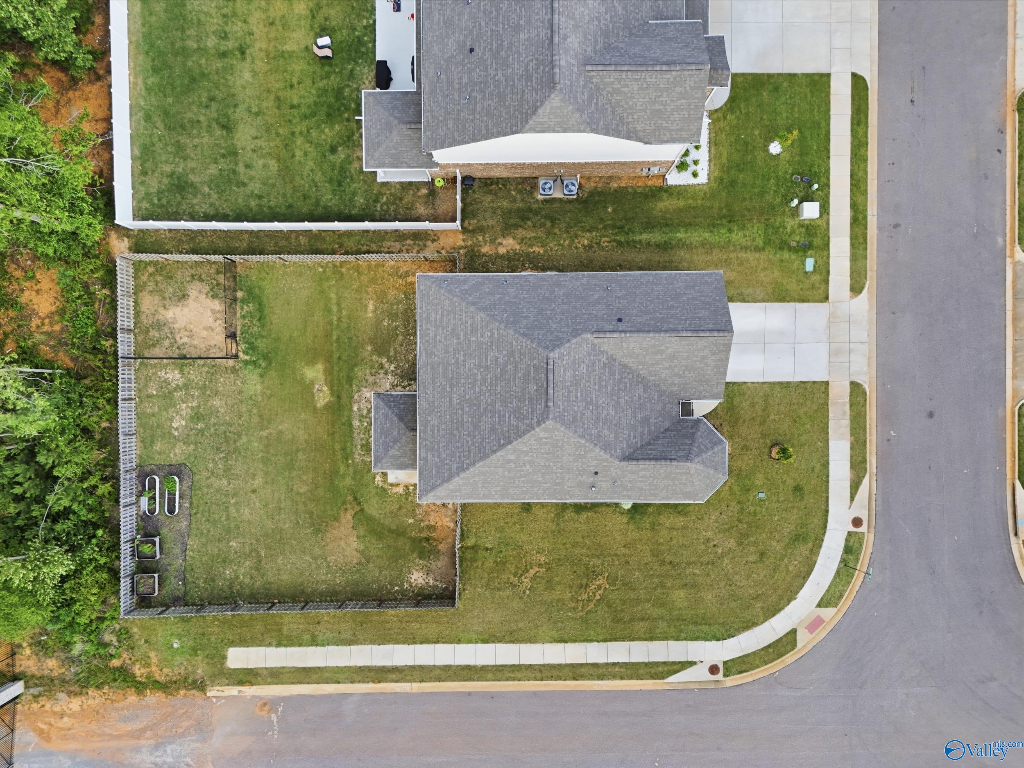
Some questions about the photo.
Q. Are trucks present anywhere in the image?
No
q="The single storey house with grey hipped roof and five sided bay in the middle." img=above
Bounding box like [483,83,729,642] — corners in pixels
[372,271,733,503]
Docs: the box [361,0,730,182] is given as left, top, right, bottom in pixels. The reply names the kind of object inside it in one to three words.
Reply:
house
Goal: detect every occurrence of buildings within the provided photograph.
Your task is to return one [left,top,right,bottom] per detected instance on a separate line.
[361,0,730,182]
[372,271,733,503]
